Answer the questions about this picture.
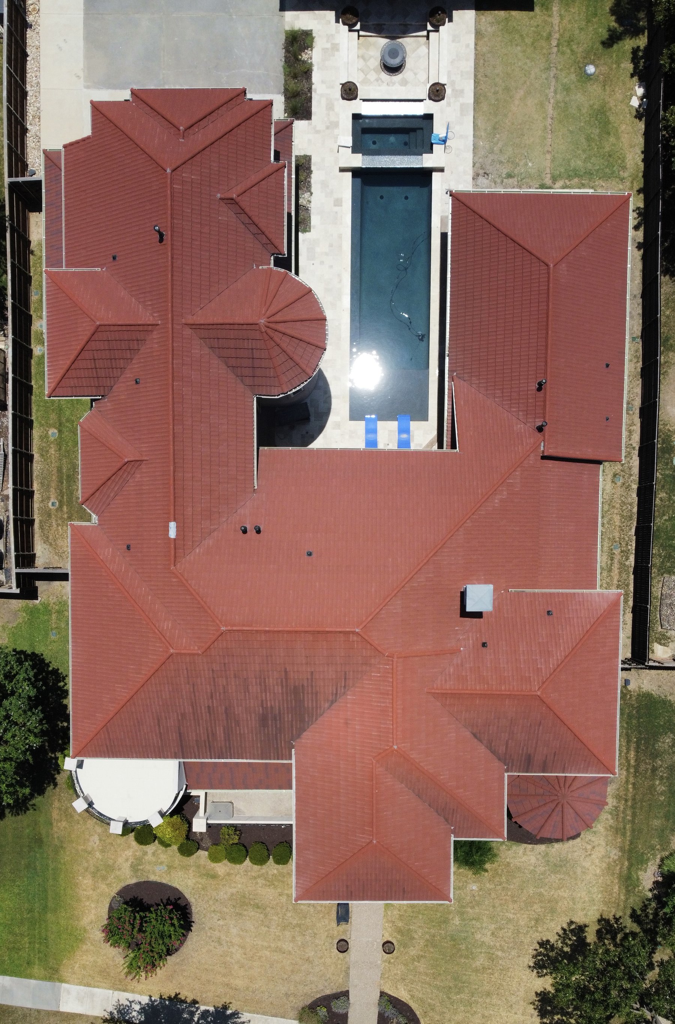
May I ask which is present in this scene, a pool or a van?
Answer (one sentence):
Looking from above, you can make out a pool.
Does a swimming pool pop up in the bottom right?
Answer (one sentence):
No, no swimming pool appears in the bottom right.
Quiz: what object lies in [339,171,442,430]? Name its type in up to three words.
swimming pool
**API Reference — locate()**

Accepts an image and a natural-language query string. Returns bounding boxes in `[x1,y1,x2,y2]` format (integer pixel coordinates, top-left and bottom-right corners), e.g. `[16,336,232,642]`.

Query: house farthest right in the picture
[40,86,634,905]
